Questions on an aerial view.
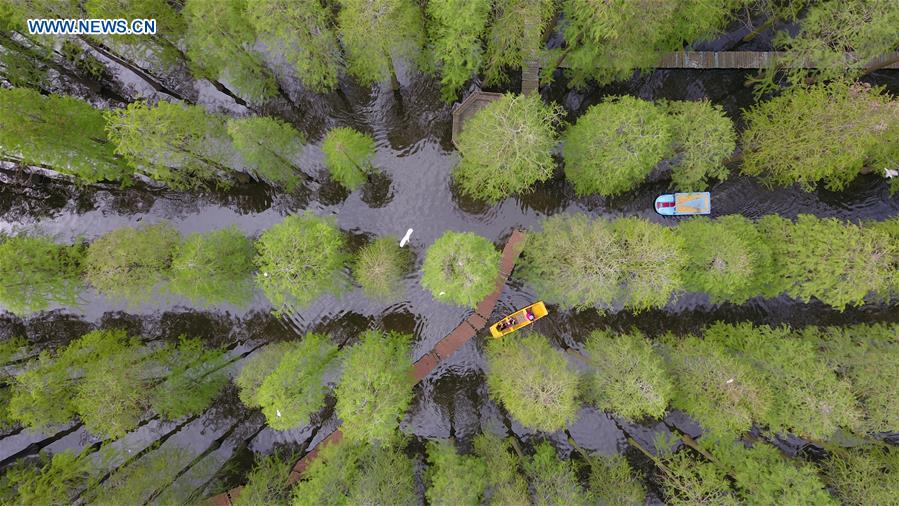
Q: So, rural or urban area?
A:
rural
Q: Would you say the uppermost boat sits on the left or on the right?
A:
right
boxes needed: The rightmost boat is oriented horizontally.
[654,192,711,216]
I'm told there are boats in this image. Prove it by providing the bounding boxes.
[490,301,549,338]
[654,192,711,216]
